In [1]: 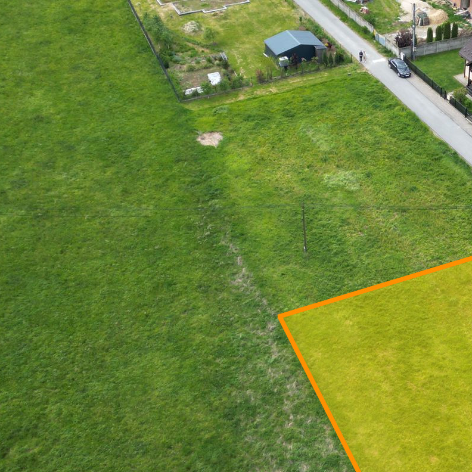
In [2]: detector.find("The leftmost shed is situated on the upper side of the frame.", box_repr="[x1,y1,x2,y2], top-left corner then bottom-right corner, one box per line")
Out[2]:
[263,29,325,69]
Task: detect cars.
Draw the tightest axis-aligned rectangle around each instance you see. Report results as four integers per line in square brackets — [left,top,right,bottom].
[387,58,411,77]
